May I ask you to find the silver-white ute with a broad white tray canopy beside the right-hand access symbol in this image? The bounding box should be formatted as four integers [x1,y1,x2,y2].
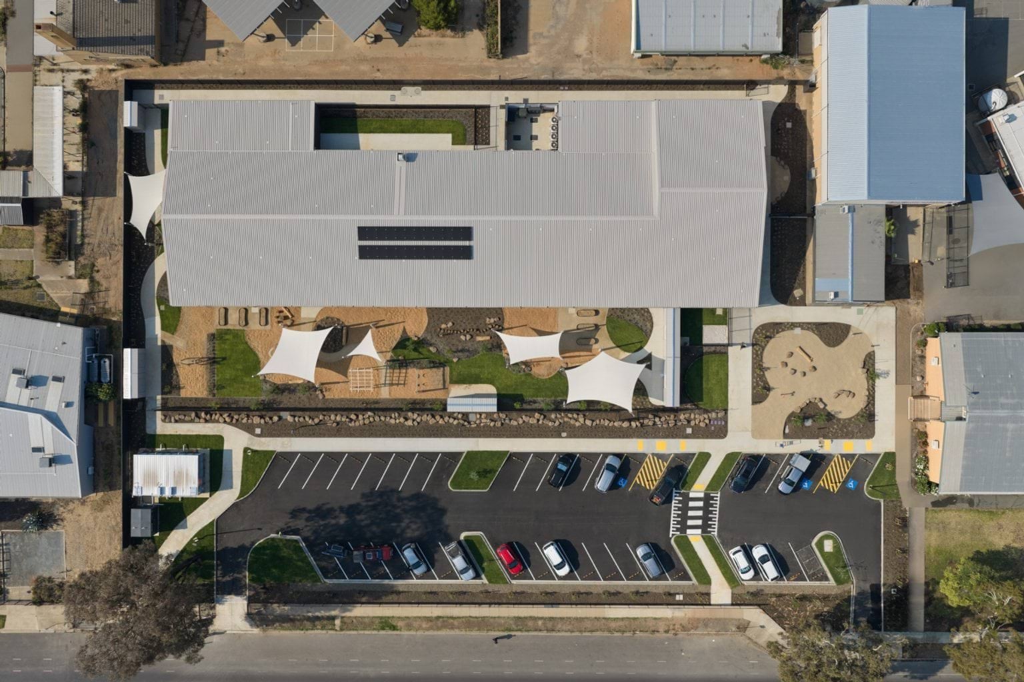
[778,452,812,495]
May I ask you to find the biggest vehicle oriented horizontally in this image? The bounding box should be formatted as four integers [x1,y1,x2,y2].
[351,546,394,565]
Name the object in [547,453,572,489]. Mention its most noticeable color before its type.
black car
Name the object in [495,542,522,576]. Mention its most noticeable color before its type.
red car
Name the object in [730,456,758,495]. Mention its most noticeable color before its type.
black car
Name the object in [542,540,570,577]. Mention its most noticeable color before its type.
white car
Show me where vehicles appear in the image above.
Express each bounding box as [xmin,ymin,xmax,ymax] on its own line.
[542,540,570,577]
[351,546,394,565]
[547,453,572,489]
[495,542,522,576]
[636,542,664,581]
[401,541,427,576]
[752,543,781,584]
[444,540,475,583]
[778,452,812,495]
[648,464,686,508]
[595,454,620,495]
[730,456,758,495]
[728,545,753,581]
